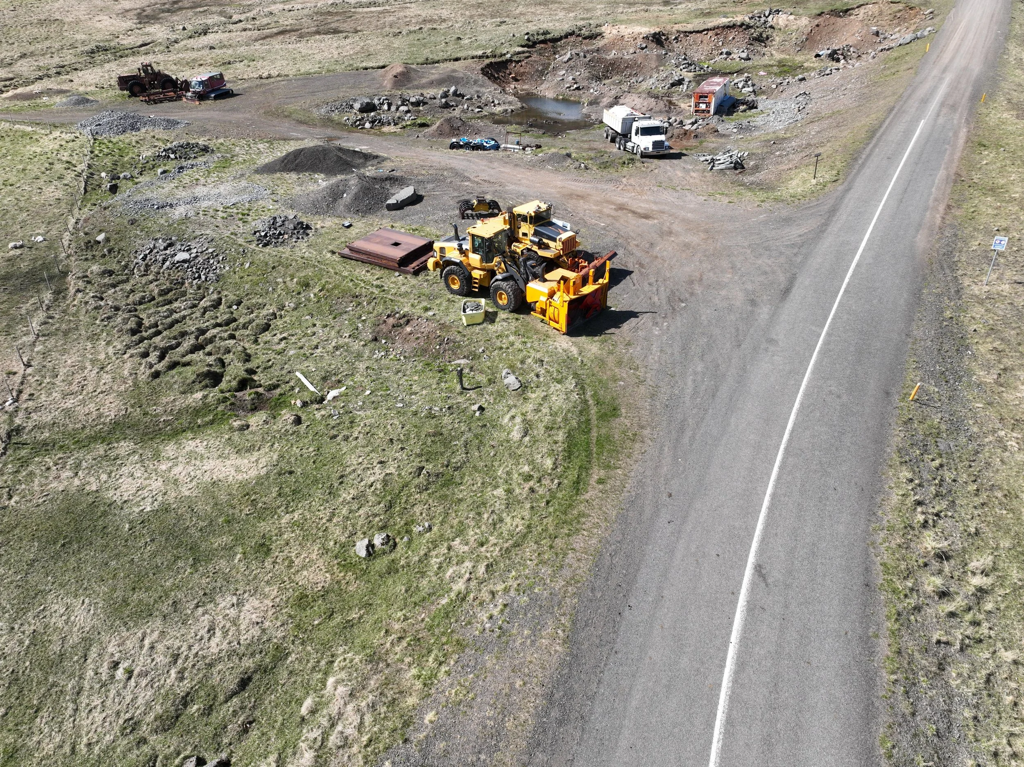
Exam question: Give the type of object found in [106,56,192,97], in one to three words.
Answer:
work vehicle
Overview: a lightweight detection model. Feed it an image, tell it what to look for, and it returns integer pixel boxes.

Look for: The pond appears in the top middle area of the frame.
[492,90,592,139]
